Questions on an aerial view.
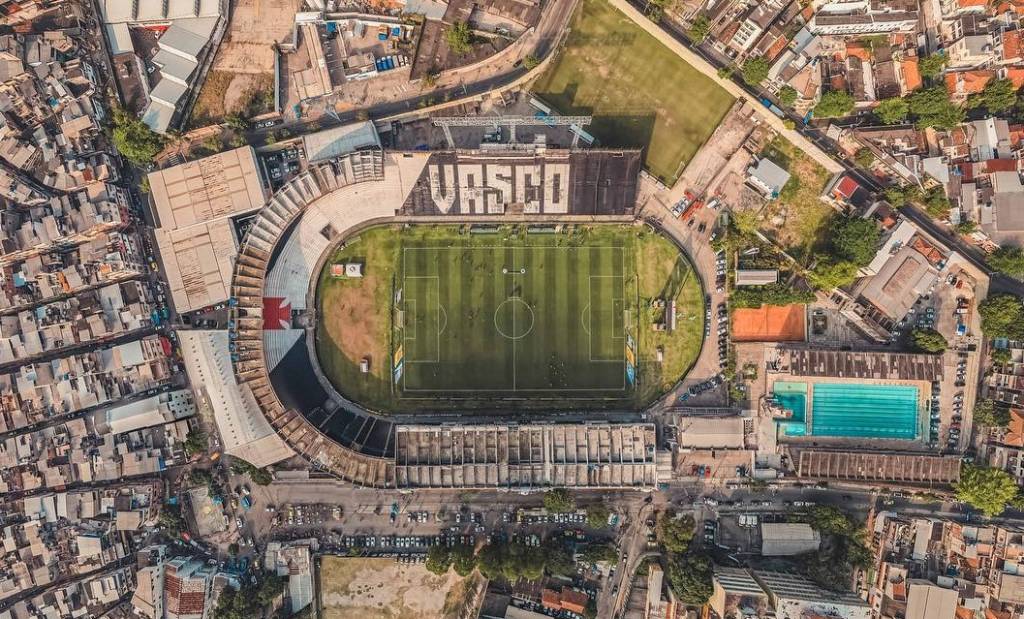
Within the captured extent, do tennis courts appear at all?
Yes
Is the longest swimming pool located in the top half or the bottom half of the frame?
bottom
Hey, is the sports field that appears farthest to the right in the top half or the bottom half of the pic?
top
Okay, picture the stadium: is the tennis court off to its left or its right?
to the right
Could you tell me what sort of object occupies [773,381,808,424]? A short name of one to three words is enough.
swimming pool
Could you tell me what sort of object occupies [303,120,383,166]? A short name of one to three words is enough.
building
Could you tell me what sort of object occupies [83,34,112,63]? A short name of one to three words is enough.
house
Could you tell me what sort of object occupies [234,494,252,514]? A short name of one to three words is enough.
vehicle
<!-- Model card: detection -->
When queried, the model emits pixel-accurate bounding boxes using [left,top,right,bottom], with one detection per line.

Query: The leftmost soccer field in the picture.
[400,242,629,400]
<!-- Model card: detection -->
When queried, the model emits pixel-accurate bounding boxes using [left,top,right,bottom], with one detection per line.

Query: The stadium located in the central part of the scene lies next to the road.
[228,136,708,489]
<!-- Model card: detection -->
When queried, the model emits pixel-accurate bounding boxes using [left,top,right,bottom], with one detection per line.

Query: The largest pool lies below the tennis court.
[768,376,932,451]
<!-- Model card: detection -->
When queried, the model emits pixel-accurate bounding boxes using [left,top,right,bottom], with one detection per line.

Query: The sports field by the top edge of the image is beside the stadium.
[534,0,736,186]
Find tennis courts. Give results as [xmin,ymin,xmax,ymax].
[734,304,800,341]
